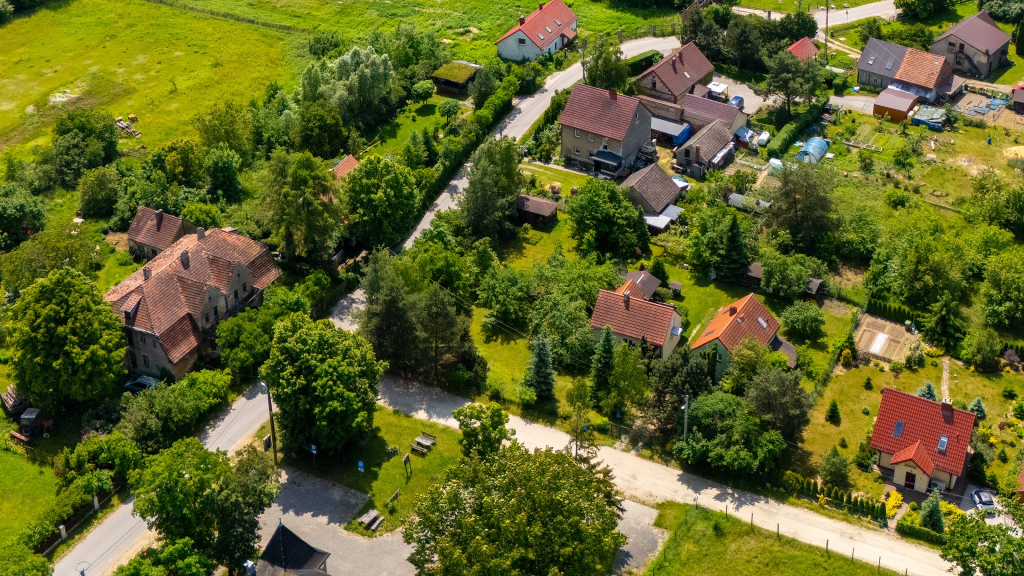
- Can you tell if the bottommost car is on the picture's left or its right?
right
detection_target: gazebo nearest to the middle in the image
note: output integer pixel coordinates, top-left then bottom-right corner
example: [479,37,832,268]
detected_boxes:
[517,195,558,231]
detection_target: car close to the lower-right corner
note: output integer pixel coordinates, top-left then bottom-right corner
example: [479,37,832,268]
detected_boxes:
[967,484,1005,518]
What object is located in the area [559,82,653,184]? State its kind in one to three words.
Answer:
house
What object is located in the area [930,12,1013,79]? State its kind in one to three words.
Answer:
barn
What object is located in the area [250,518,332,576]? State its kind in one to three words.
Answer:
building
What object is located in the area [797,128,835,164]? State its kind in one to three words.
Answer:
greenhouse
